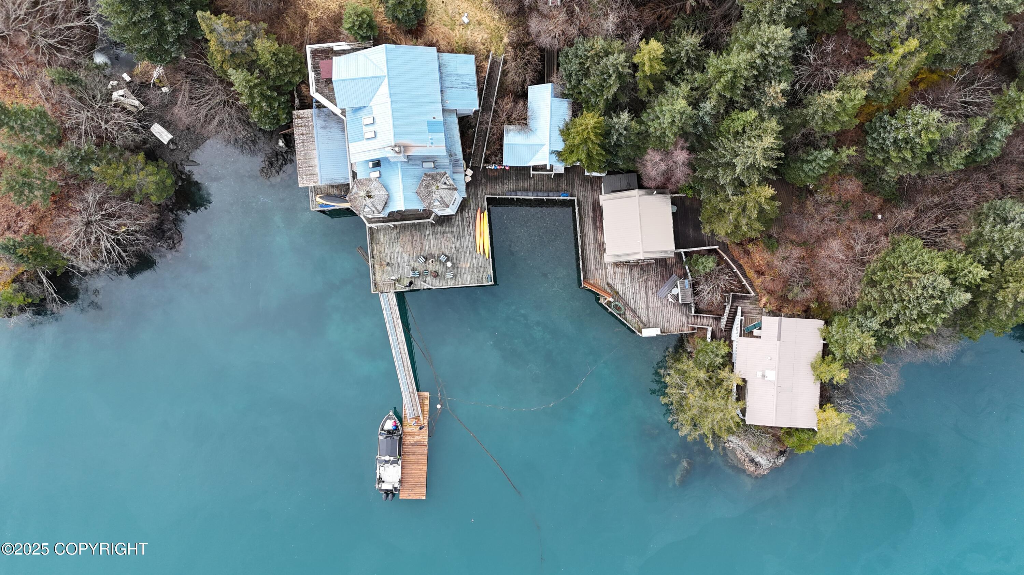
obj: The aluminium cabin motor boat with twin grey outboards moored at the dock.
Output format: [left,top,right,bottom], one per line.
[376,410,402,499]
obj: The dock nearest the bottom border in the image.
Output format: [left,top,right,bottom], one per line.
[399,391,431,500]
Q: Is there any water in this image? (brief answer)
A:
Yes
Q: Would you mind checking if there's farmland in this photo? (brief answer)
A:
No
